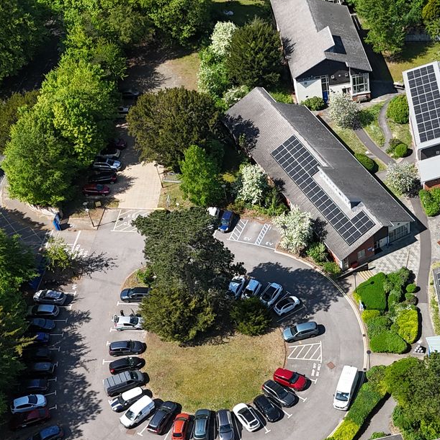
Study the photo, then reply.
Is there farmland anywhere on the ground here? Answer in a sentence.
No, there is no farmland in the image.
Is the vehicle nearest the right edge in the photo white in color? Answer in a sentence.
Yes, the vehicle nearest the right edge appears white.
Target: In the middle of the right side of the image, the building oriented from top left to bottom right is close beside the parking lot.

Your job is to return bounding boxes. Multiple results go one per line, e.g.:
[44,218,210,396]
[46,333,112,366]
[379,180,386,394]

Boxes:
[225,83,415,269]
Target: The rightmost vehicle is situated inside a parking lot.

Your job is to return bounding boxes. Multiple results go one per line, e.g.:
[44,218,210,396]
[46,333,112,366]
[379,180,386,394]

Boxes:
[334,365,358,411]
